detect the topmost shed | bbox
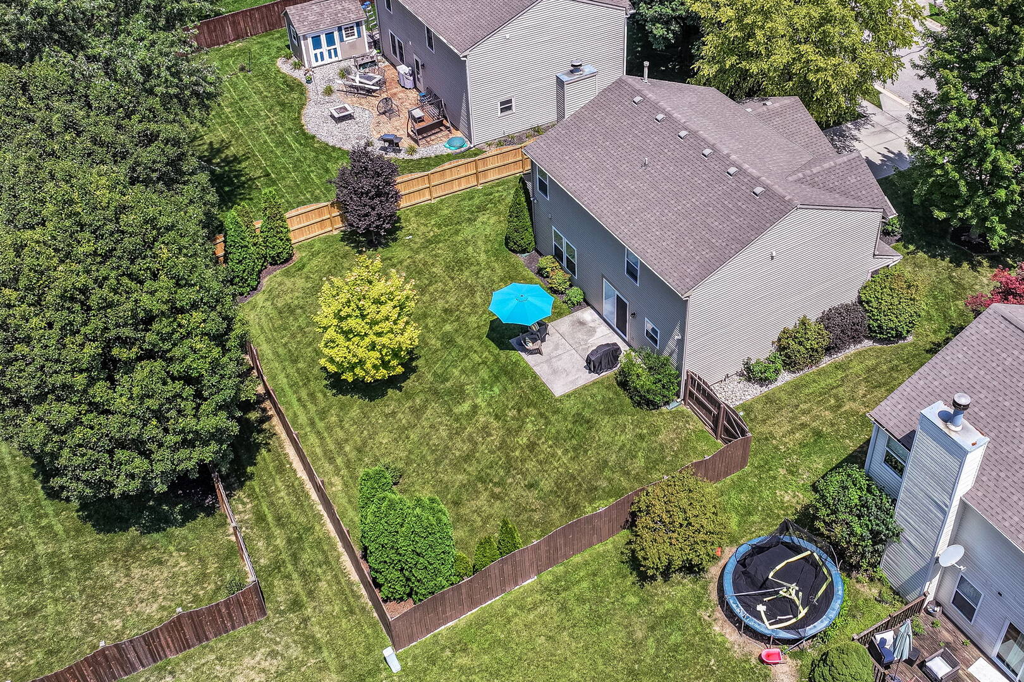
[279,0,368,69]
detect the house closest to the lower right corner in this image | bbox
[858,303,1024,682]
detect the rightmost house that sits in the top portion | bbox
[520,61,905,401]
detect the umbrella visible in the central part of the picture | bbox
[486,281,557,345]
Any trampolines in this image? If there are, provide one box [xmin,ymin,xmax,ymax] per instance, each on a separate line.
[719,519,843,666]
